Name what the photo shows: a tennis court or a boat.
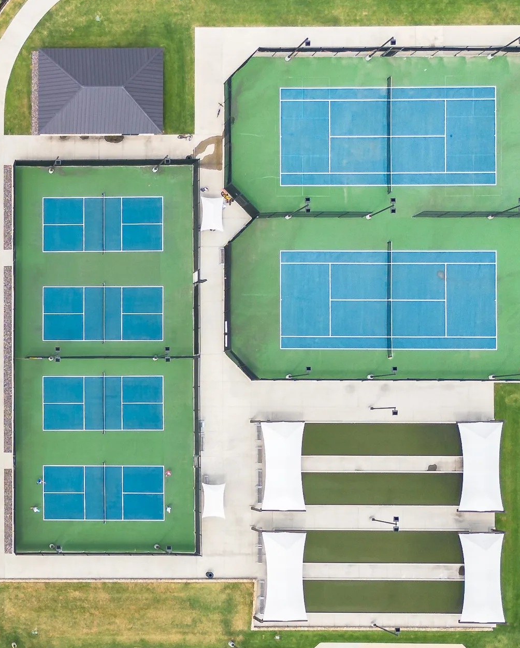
tennis court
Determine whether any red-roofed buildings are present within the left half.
No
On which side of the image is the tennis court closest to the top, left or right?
right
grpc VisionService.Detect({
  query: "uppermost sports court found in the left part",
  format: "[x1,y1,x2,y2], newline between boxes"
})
[42,197,163,252]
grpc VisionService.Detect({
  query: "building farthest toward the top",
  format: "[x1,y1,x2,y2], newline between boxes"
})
[37,47,164,137]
